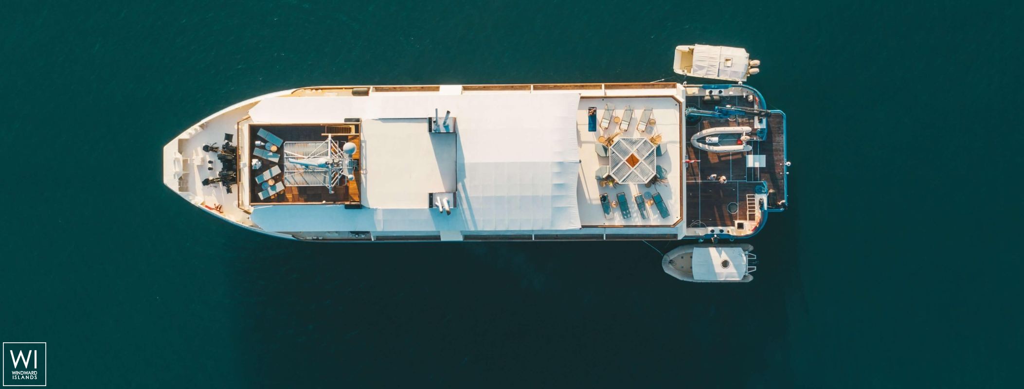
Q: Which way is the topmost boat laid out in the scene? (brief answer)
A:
from left to right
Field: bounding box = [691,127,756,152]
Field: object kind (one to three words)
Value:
boat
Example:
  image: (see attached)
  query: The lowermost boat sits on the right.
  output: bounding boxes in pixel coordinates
[662,243,757,283]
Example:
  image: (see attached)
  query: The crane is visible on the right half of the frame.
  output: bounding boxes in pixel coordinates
[687,104,771,126]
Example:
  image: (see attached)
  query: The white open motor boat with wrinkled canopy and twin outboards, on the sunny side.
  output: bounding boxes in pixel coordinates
[674,44,760,81]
